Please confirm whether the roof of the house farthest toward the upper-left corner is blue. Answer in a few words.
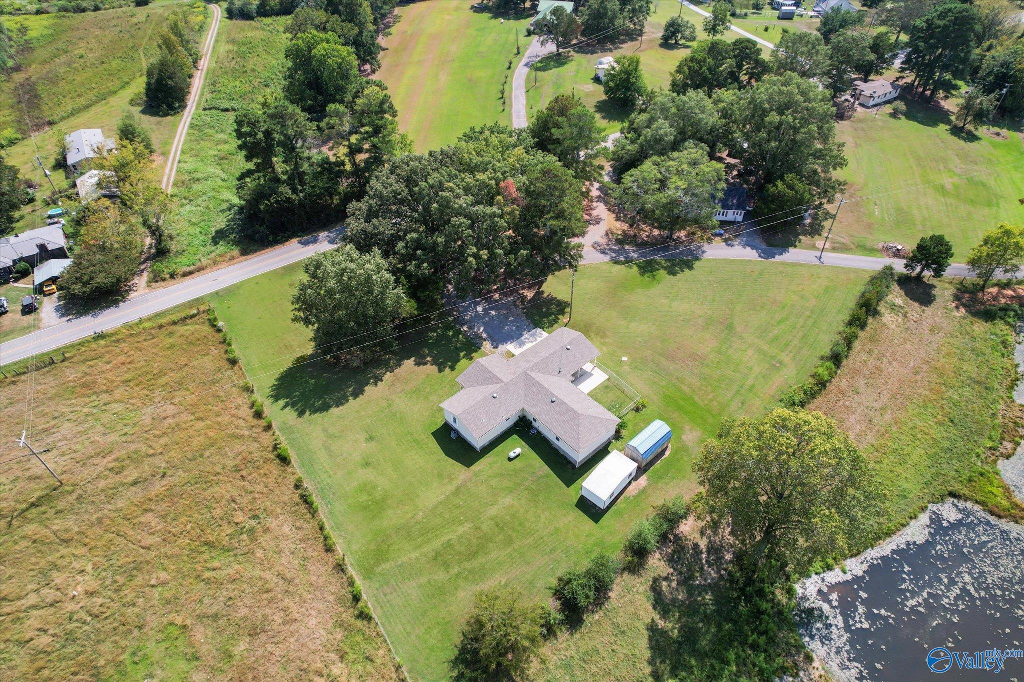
No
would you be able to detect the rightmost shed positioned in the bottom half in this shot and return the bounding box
[625,428,676,475]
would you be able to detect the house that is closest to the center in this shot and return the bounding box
[439,326,622,467]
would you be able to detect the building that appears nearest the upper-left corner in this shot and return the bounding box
[62,128,120,176]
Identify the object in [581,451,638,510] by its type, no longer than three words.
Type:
shed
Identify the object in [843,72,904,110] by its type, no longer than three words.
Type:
house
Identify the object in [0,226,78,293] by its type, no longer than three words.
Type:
house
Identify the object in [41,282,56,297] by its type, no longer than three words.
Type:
car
